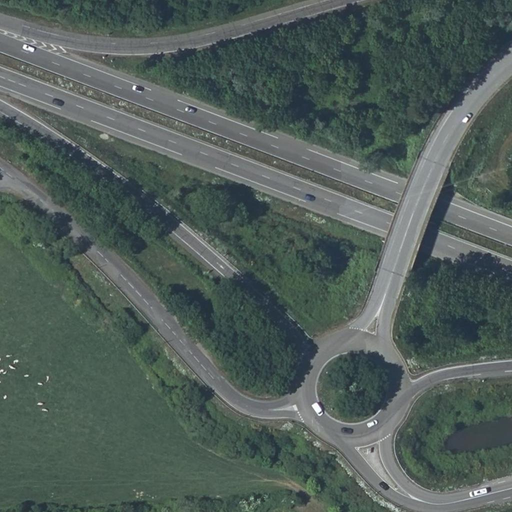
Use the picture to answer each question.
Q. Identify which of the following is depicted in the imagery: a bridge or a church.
bridge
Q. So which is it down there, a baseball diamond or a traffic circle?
traffic circle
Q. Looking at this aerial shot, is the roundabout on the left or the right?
right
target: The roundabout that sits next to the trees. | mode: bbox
[297,314,413,464]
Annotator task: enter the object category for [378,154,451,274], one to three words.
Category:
bridge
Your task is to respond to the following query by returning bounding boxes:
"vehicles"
[304,194,316,201]
[23,45,35,52]
[342,428,354,434]
[52,98,64,106]
[366,420,378,428]
[132,85,144,92]
[379,482,390,491]
[313,402,324,415]
[471,488,489,497]
[184,106,196,114]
